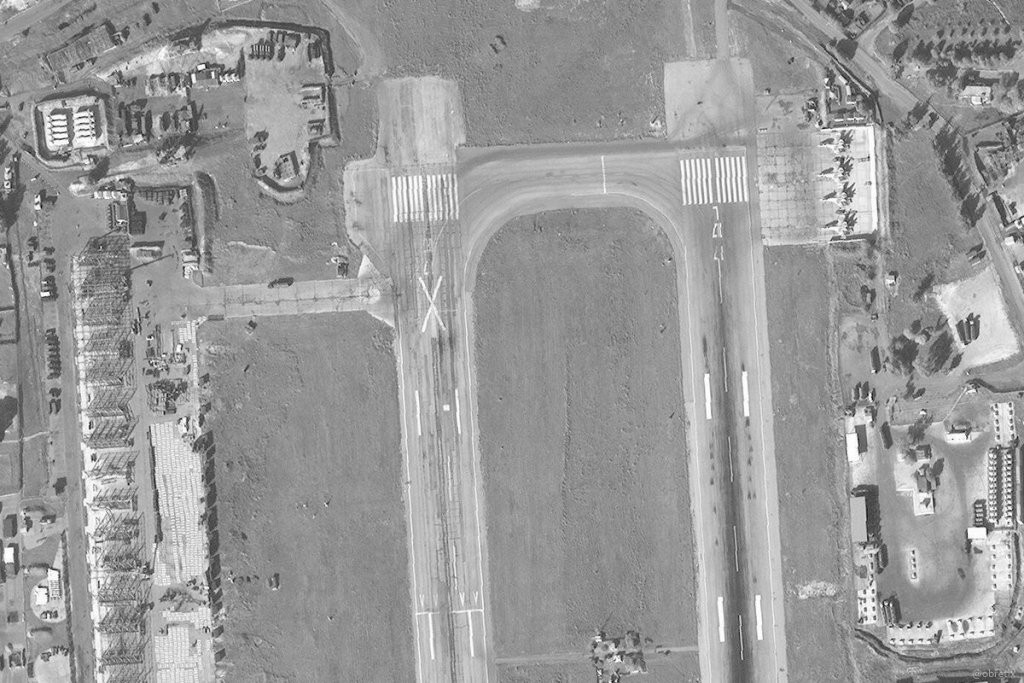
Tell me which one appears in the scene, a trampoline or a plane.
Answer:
plane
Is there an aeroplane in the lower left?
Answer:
No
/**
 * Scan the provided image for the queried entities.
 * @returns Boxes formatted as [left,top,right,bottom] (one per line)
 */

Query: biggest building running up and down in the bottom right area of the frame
[851,497,869,542]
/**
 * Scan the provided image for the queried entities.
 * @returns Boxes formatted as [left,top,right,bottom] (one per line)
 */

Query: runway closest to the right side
[680,145,776,683]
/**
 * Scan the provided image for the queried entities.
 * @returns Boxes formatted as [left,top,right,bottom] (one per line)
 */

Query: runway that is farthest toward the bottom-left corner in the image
[391,166,487,683]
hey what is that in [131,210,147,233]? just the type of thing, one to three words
building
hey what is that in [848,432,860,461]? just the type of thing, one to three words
building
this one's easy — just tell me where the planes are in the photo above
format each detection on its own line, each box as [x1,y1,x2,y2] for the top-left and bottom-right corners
[824,191,853,212]
[824,217,854,238]
[820,137,850,158]
[822,164,851,185]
